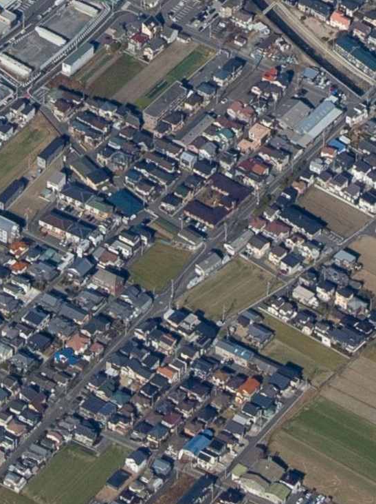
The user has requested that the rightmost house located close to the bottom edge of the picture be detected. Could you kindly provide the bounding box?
[280,472,308,503]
